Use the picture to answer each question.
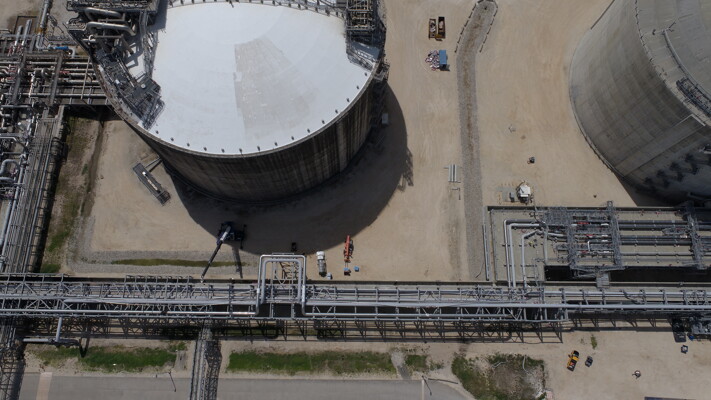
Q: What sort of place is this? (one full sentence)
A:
The picture captures an industrial area.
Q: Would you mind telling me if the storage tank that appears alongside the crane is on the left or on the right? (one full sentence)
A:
It is on the left.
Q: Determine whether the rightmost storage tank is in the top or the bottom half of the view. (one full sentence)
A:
The top half of the photo is where the rightmost storage tank is.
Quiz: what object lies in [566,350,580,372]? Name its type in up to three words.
vehicle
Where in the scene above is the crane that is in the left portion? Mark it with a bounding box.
[200,221,249,281]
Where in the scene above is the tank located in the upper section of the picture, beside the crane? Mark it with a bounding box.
[61,0,396,209]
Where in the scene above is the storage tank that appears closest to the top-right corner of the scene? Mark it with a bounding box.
[568,0,711,206]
